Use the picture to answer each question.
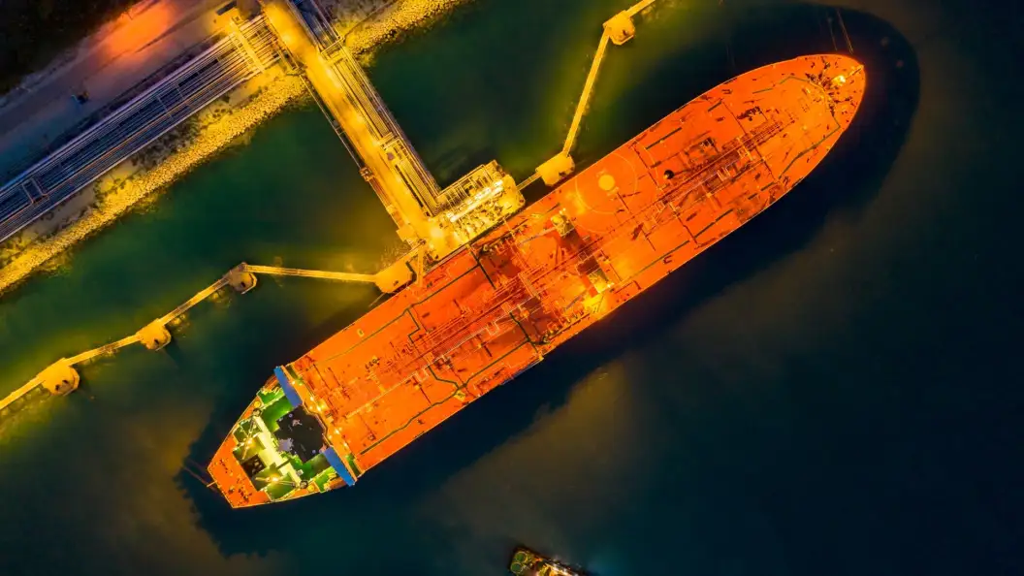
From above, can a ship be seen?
Yes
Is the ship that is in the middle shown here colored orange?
Yes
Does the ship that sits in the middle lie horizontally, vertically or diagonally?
diagonally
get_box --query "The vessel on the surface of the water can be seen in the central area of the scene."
[207,54,866,508]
